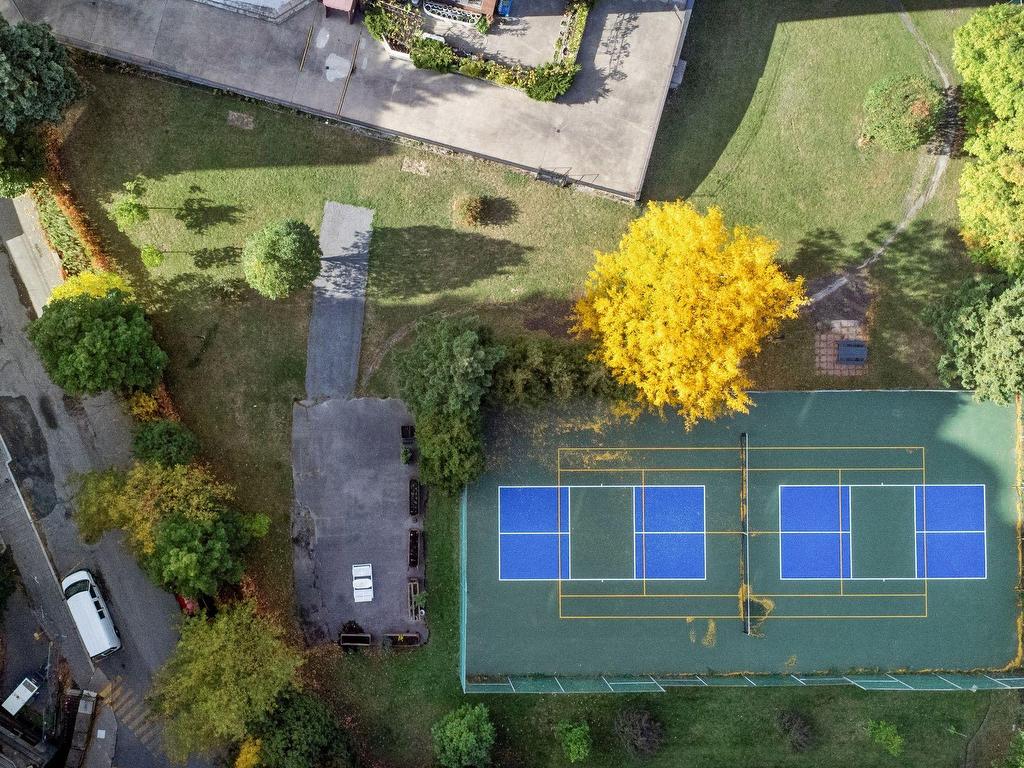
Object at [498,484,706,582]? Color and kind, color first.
blue sports court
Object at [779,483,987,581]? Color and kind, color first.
blue sports court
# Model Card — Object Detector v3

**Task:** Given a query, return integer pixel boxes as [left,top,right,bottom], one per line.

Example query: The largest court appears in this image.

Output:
[465,391,1018,678]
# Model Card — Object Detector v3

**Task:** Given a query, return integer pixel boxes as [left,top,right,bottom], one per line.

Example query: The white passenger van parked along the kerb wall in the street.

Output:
[62,570,120,659]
